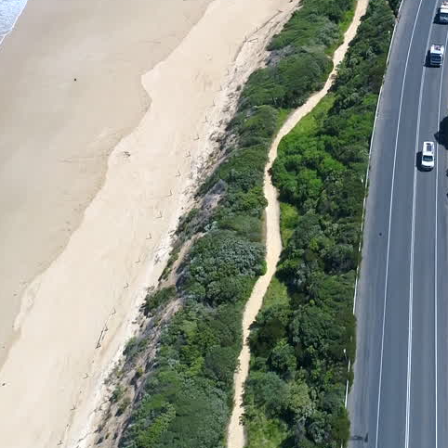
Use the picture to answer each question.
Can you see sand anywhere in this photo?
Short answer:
Yes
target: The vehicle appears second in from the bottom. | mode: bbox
[427,44,442,67]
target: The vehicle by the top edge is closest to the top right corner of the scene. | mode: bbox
[435,3,448,23]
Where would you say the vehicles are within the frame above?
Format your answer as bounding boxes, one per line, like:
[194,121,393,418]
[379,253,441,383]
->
[427,44,442,67]
[435,3,448,23]
[420,142,435,167]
